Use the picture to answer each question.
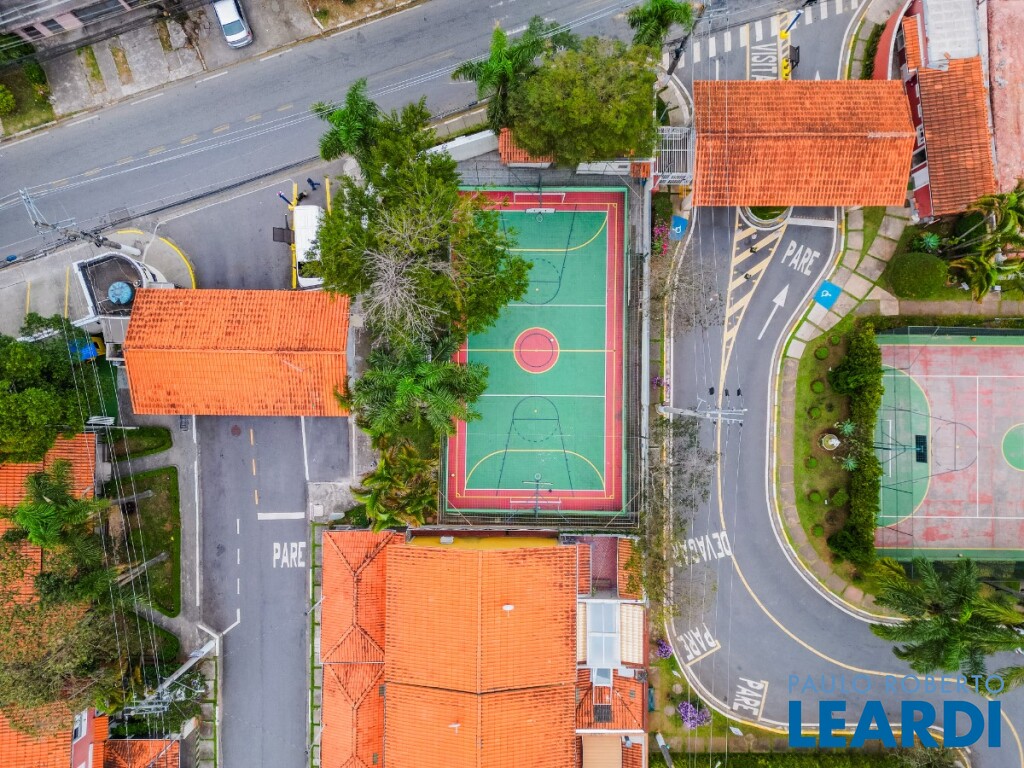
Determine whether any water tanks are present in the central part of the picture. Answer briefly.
No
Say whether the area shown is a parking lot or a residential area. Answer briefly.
residential area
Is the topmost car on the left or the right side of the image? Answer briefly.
left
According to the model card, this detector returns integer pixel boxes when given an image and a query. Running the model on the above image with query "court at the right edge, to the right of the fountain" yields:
[869,335,1024,560]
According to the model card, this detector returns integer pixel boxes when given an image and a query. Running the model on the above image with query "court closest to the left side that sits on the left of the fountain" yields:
[444,186,629,517]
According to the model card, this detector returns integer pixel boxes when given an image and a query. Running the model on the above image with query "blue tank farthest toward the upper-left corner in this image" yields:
[104,281,132,306]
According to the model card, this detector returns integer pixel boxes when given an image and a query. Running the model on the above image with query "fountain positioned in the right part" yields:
[824,433,843,451]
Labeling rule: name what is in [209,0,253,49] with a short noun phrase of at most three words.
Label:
car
